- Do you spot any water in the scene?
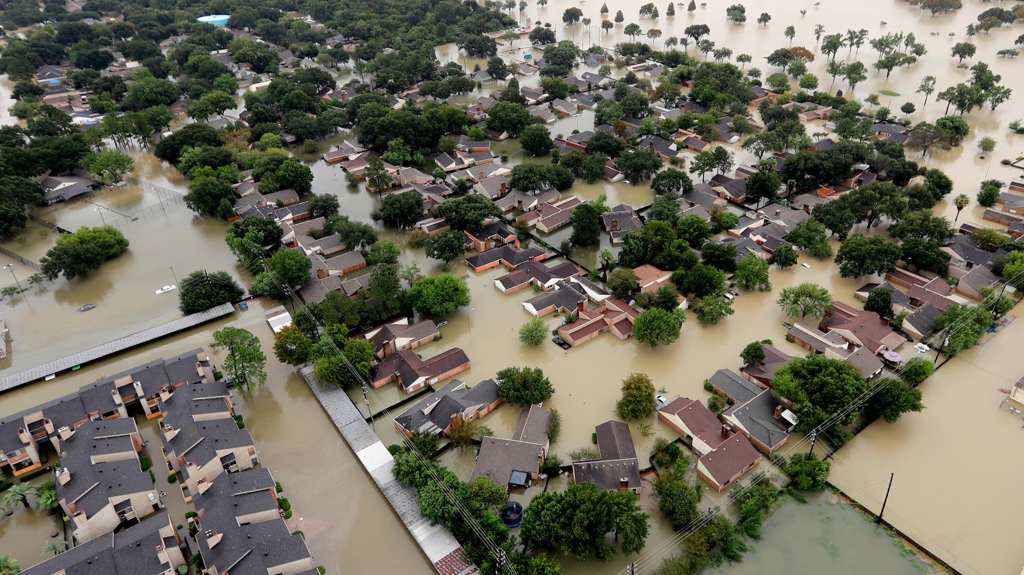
Yes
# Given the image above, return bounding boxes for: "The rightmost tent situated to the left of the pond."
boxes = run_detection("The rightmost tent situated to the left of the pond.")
[505,469,535,499]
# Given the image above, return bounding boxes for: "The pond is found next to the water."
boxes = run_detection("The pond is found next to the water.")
[670,486,941,575]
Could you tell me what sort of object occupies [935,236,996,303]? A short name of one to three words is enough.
house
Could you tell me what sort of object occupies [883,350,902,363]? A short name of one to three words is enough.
umbrella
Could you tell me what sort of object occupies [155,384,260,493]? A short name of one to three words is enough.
building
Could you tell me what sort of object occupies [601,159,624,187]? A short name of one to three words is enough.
house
